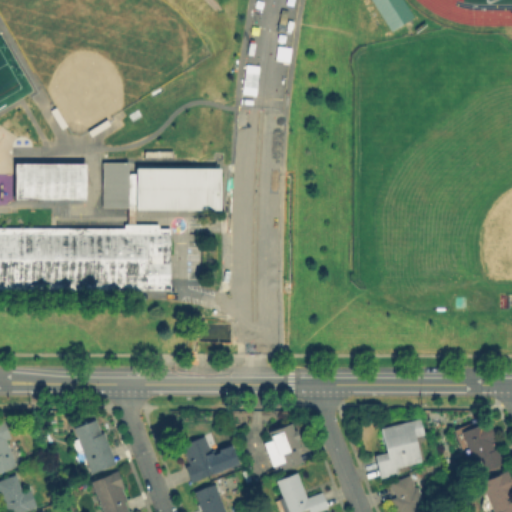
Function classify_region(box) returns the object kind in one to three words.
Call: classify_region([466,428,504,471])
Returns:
house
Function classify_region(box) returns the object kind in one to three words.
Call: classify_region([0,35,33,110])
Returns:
sports court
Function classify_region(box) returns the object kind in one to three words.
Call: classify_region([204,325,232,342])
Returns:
building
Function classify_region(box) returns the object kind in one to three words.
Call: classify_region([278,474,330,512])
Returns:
house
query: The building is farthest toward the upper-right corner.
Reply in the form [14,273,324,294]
[375,0,415,31]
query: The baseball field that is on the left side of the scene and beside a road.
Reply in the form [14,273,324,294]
[0,0,210,134]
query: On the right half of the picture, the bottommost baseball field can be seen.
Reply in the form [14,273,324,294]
[351,28,512,310]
